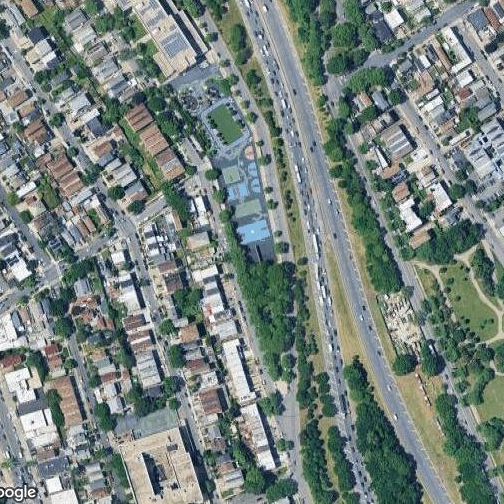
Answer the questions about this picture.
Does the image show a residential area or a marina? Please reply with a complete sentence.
The area seen from above is a residential area.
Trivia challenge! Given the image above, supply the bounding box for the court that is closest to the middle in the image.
[237,220,269,243]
